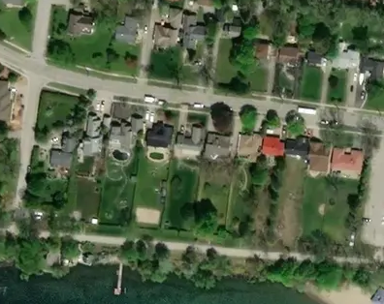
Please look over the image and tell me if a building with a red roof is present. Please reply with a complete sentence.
Yes, I can see a building with a red roof in this picture.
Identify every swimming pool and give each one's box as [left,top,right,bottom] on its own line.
[148,150,166,162]
[111,149,131,160]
